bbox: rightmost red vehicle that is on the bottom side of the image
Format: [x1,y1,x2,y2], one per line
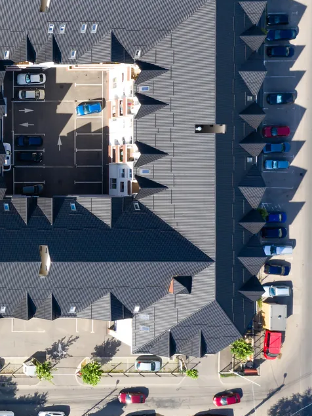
[265,329,281,360]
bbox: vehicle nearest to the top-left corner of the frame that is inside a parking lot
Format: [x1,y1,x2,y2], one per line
[16,73,45,85]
